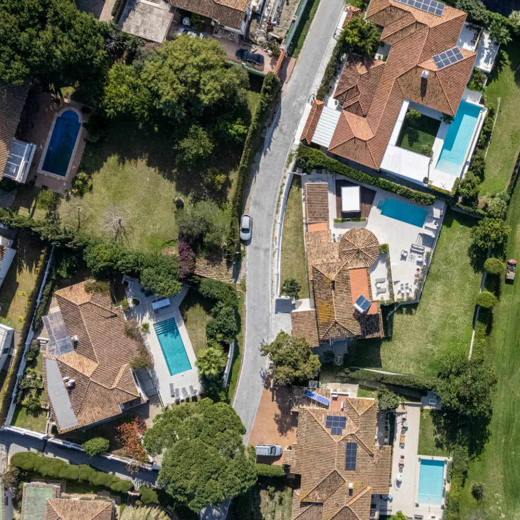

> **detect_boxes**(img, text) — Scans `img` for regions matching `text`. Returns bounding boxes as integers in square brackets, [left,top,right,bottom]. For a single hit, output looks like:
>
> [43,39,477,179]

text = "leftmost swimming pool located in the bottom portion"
[152,316,194,378]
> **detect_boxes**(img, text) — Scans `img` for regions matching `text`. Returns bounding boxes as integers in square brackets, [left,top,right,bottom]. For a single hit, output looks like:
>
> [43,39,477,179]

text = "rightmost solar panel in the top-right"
[432,46,464,68]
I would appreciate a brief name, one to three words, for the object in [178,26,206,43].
car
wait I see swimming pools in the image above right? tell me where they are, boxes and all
[152,316,194,378]
[37,107,83,180]
[415,457,448,508]
[375,197,430,229]
[434,99,483,178]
